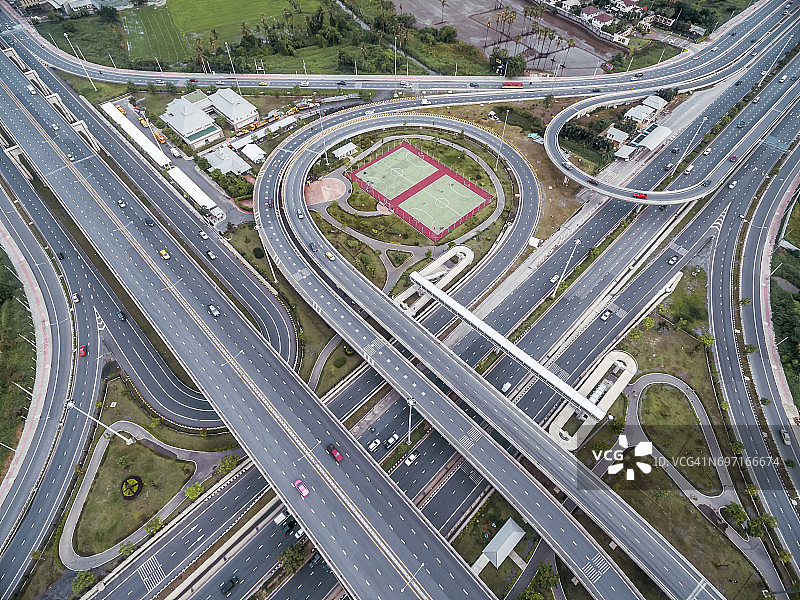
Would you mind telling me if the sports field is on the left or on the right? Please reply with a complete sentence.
The sports field is on the left side of the image.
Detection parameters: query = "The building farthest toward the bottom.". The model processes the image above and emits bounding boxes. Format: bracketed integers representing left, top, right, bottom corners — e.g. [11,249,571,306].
[482,516,525,568]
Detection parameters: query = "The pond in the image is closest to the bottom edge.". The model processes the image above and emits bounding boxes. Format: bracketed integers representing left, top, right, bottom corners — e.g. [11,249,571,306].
[488,34,618,73]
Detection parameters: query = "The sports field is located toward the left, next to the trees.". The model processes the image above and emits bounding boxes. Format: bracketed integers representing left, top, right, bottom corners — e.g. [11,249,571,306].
[123,9,192,61]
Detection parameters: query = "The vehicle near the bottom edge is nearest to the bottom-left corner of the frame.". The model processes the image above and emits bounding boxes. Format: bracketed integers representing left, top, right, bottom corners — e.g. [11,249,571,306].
[219,574,240,597]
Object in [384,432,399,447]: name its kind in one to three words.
vehicle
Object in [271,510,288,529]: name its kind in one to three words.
vehicle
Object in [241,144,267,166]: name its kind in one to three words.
house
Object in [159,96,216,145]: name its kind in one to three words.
building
